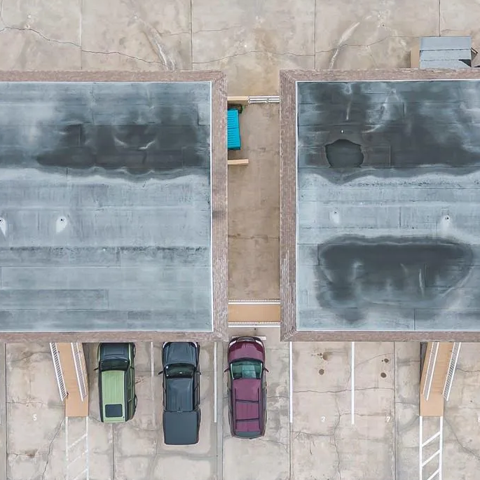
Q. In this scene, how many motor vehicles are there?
3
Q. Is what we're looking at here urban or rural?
urban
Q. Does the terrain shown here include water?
No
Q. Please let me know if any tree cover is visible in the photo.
No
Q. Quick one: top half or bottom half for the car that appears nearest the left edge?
bottom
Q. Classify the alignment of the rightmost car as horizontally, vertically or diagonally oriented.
vertically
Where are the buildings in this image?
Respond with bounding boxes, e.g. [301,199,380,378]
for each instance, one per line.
[281,67,480,343]
[0,69,228,344]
